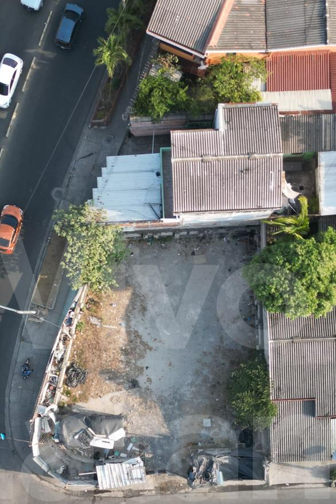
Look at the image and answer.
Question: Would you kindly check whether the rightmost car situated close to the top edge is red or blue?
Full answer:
From above, the rightmost car situated close to the top edge appears blue.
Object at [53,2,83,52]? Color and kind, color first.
blue car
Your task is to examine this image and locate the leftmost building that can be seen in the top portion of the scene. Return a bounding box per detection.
[87,148,173,232]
